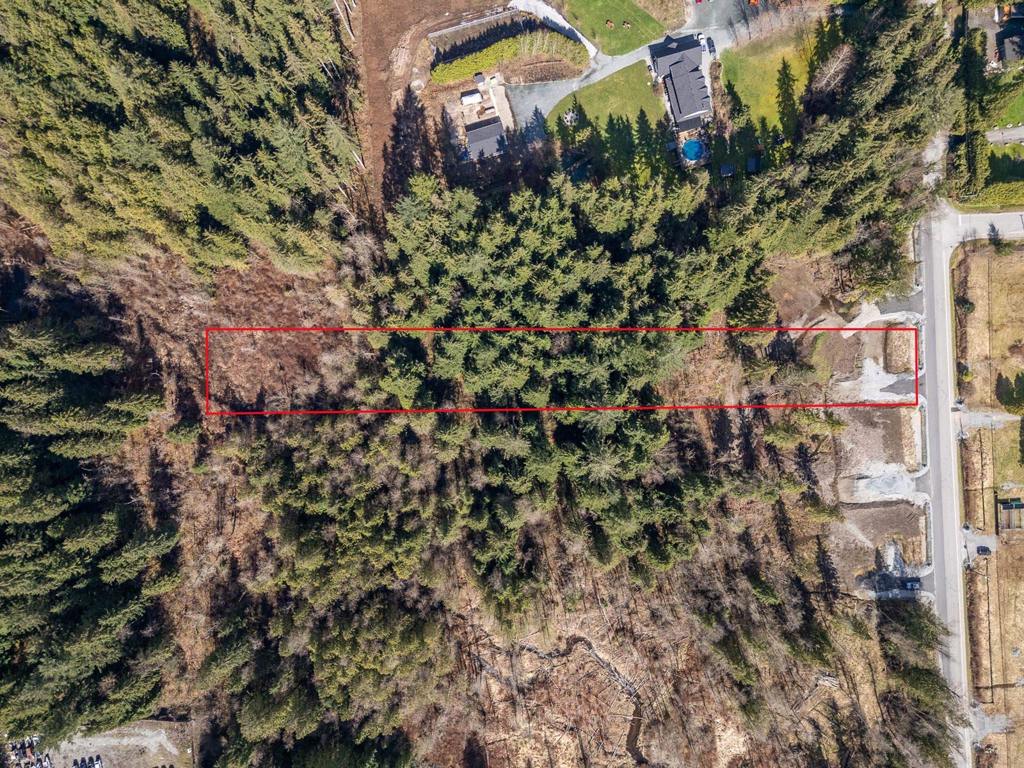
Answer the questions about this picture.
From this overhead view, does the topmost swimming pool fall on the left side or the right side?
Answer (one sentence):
You can find the topmost swimming pool on the right side of the picture.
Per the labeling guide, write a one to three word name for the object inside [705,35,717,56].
vehicle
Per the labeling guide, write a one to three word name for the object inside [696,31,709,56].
vehicle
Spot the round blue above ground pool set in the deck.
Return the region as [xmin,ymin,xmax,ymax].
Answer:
[682,138,705,161]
